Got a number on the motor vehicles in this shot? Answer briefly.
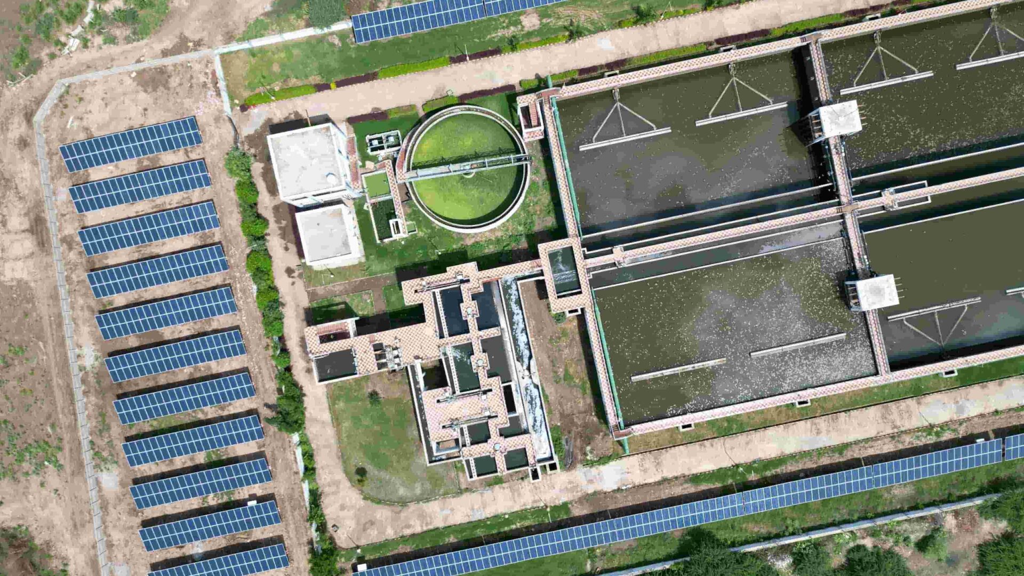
0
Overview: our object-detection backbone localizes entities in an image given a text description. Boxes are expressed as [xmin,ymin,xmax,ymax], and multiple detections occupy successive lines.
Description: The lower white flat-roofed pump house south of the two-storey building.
[295,195,368,266]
